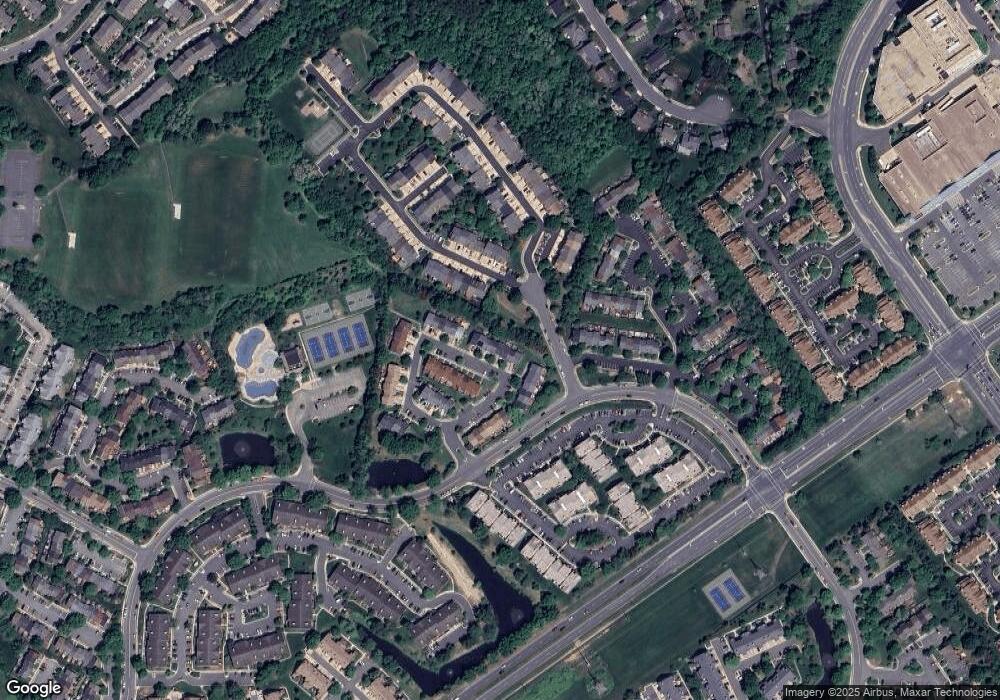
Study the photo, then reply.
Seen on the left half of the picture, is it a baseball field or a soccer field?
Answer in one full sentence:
The feature located on the left half of the picture is a soccer field.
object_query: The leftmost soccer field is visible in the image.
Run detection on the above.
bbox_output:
[79,191,165,299]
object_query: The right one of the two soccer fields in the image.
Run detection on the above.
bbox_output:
[182,150,254,287]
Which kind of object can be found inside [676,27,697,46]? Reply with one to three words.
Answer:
house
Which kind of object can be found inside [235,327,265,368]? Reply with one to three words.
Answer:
swimming pool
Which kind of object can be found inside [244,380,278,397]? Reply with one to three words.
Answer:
swimming pool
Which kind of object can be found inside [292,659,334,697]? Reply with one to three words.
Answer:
building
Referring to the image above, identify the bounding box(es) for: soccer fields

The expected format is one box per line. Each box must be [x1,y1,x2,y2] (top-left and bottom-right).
[182,150,254,287]
[79,191,165,299]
